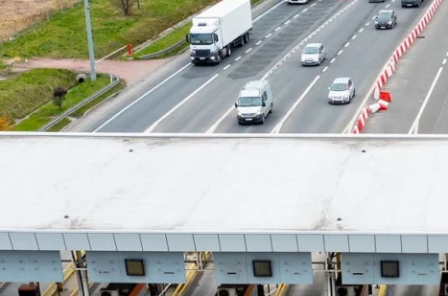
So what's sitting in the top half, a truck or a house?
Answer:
truck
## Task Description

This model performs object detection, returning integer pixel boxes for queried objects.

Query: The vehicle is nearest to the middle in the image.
[239,82,275,121]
